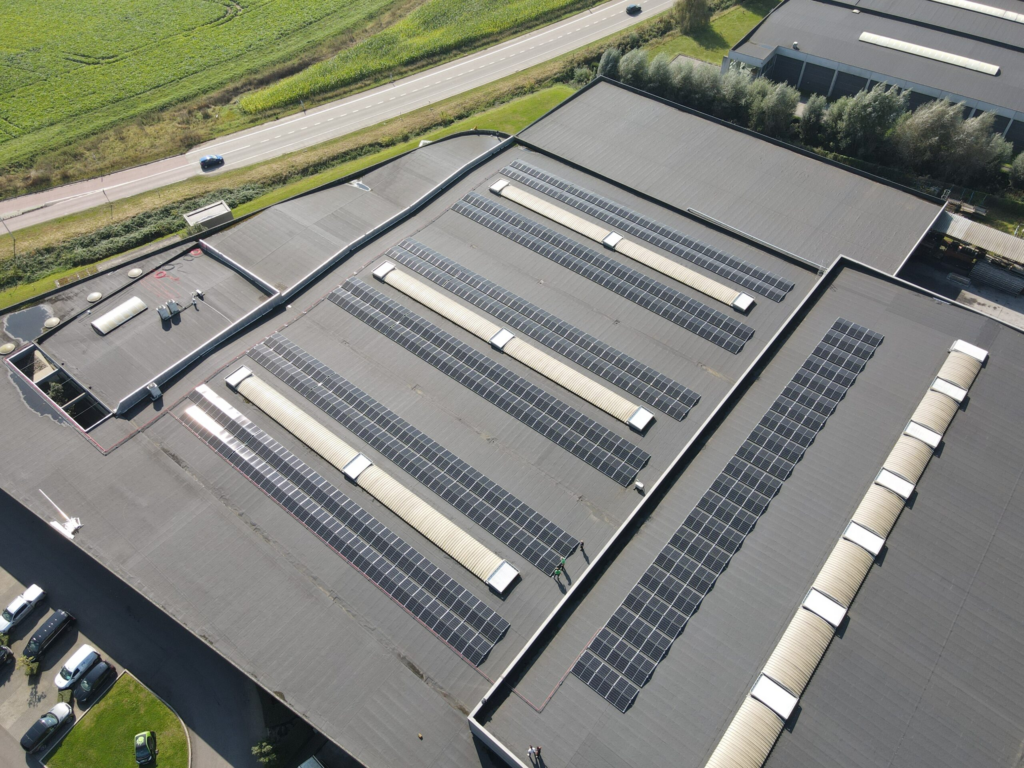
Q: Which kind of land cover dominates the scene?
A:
buildings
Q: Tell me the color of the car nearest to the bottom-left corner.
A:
black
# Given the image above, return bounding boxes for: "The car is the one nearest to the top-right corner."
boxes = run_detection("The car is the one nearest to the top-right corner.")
[625,3,643,15]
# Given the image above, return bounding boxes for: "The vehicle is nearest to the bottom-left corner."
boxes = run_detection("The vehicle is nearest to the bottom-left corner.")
[17,706,75,758]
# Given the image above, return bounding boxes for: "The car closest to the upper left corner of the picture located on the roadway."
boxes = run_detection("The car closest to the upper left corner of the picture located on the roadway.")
[197,155,223,169]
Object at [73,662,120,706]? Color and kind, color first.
black car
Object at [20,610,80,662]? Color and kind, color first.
black car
